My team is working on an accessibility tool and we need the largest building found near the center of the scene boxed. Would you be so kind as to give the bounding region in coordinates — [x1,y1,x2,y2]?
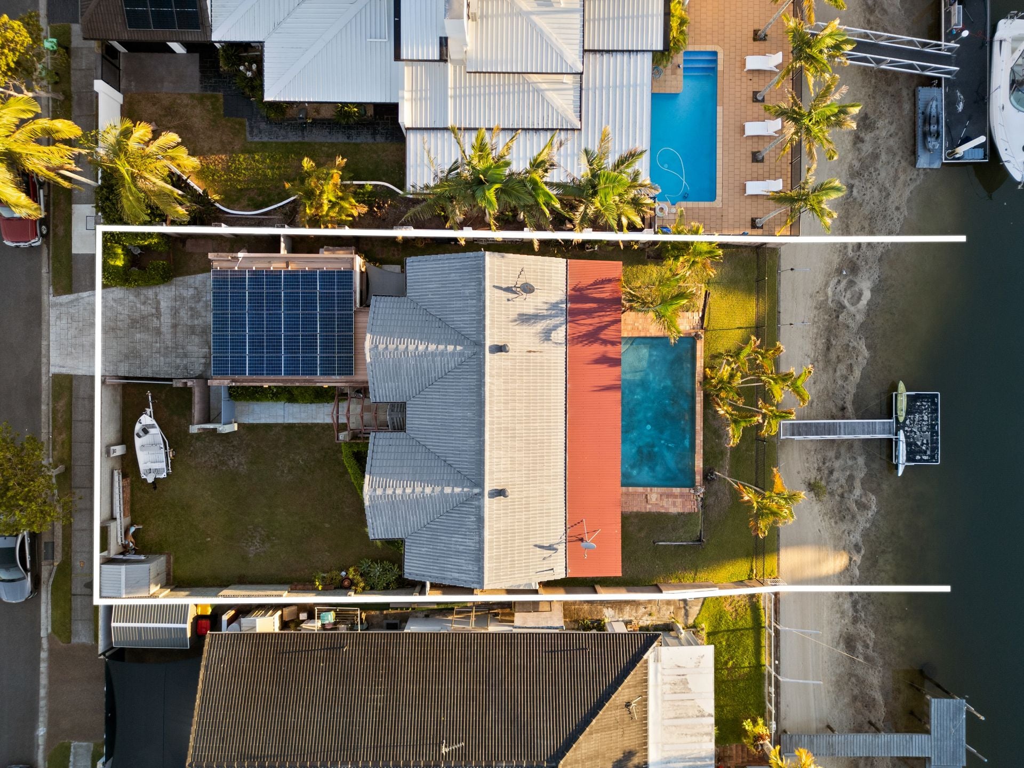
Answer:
[359,252,622,590]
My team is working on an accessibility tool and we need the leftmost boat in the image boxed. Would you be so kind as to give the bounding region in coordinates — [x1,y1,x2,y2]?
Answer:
[131,413,167,484]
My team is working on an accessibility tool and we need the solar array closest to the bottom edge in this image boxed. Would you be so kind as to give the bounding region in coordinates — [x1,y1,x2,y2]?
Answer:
[212,267,354,379]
